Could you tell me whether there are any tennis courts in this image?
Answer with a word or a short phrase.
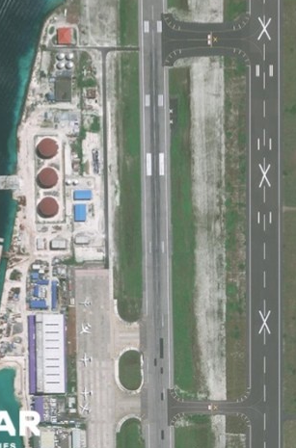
No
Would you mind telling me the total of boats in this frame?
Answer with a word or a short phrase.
0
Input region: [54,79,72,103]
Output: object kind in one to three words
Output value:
building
